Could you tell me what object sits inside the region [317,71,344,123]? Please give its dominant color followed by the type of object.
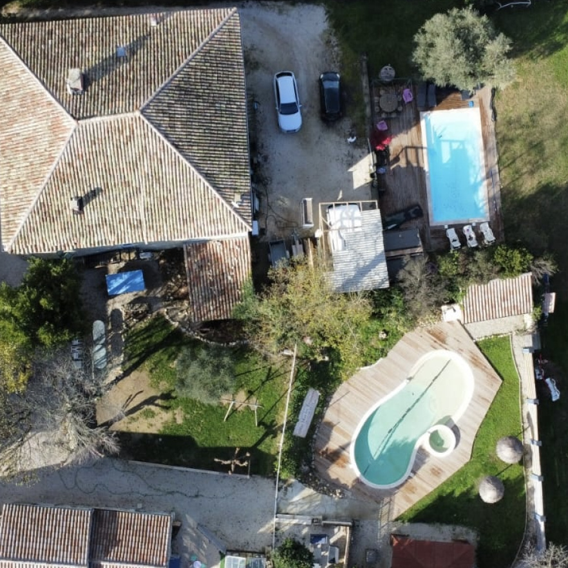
black car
